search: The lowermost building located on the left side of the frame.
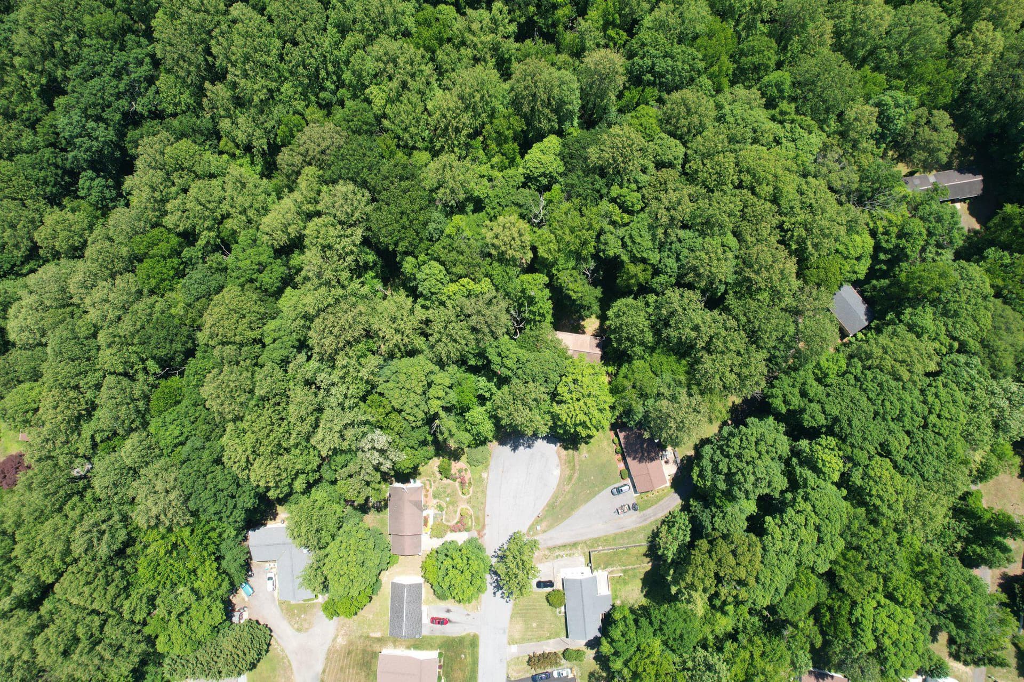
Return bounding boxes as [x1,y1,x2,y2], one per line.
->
[378,649,439,682]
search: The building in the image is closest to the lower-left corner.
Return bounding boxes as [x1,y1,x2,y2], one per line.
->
[248,525,318,603]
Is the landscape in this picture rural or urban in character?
rural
